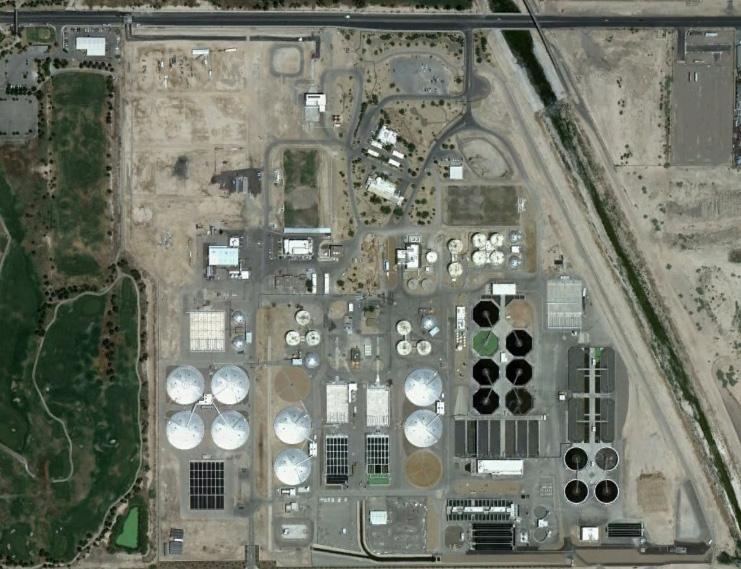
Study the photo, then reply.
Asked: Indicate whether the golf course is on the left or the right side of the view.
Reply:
left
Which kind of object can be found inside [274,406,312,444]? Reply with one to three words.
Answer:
storage tank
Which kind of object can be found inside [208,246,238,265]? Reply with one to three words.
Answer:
building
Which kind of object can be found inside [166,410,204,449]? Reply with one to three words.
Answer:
storage tank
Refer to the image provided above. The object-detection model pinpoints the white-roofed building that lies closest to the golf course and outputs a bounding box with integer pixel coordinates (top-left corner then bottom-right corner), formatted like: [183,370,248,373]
[75,37,105,56]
